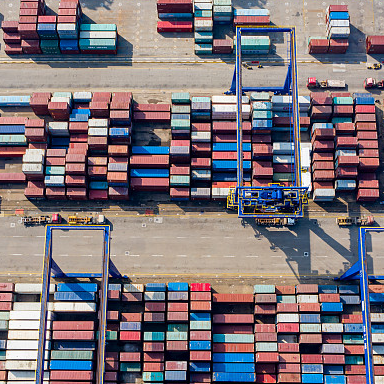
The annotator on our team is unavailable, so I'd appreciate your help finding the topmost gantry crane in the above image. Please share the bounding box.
[224,22,316,226]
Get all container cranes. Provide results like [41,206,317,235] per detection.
[334,222,384,384]
[32,221,127,384]
[224,22,316,226]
